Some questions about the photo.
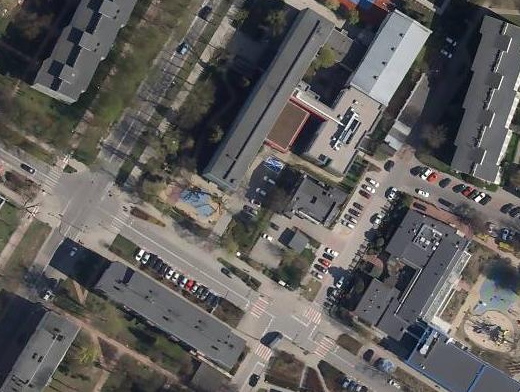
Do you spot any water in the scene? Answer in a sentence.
No, there's no water in this view.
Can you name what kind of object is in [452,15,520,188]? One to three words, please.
building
